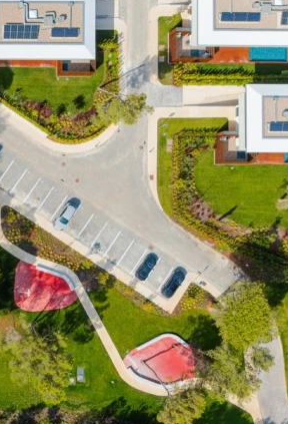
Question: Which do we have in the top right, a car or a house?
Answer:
house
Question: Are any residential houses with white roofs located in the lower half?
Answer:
No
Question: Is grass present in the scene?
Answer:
Yes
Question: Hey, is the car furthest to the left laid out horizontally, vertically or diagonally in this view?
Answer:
diagonally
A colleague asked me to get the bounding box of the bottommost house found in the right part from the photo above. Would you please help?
[214,84,288,164]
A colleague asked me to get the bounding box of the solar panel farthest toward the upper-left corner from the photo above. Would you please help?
[4,25,40,42]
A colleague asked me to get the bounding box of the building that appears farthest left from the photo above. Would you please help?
[0,0,96,77]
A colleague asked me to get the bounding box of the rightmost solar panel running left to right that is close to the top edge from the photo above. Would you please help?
[220,12,262,25]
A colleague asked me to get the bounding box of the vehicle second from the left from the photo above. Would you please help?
[134,253,157,281]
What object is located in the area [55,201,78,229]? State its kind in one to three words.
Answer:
car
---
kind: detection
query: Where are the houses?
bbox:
[0,0,96,77]
[168,0,288,63]
[214,84,288,164]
